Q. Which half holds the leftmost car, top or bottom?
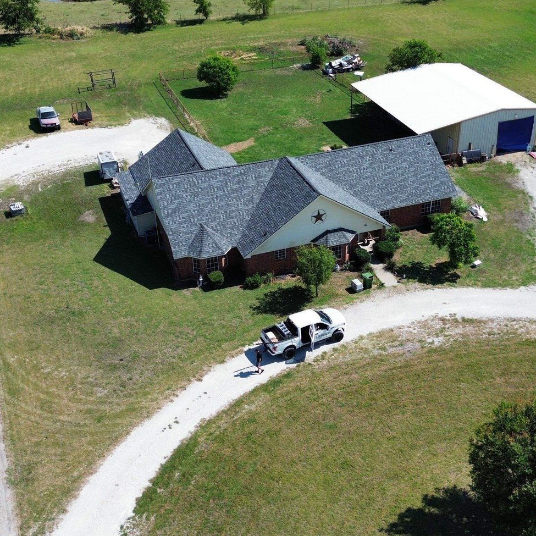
top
